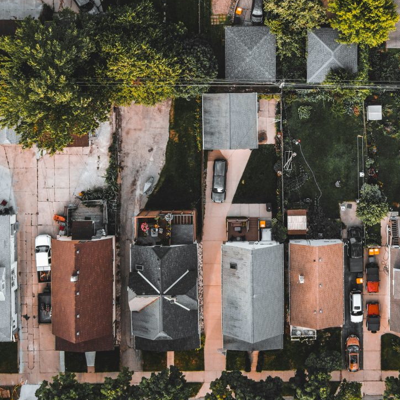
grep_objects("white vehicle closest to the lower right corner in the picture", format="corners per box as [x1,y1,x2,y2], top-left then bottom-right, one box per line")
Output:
[349,291,366,326]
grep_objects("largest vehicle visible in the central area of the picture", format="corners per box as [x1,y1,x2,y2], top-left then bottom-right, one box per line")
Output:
[209,159,226,204]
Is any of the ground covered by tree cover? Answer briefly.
Yes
